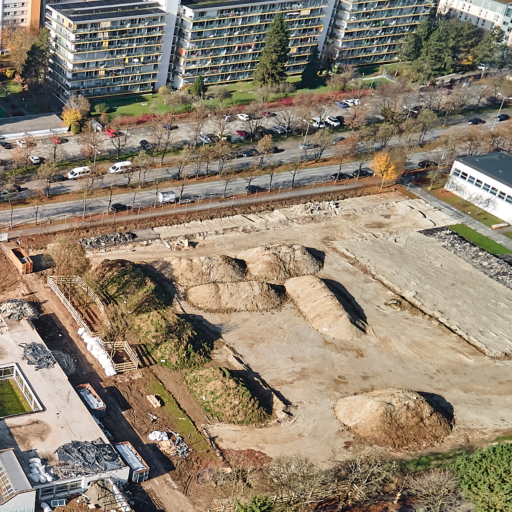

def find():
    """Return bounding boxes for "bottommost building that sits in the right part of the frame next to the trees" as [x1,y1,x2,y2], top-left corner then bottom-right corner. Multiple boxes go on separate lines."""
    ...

[442,150,512,227]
